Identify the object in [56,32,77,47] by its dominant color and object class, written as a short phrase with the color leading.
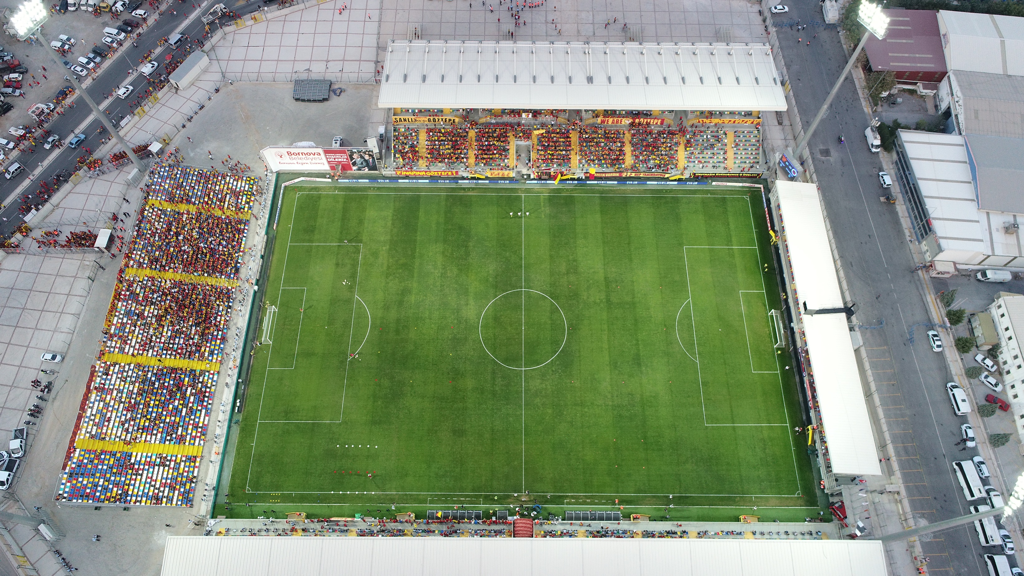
white vehicle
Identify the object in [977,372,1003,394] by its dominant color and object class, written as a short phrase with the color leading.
white car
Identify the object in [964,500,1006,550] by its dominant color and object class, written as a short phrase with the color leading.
white bus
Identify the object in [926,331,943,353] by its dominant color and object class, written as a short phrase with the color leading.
white car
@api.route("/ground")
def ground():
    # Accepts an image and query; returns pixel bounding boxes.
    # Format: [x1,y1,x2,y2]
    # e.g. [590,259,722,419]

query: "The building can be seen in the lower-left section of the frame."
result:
[37,519,64,546]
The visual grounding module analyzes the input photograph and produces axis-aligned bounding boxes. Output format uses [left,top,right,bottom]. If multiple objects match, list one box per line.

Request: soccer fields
[213,170,833,522]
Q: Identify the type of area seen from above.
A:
sports ground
